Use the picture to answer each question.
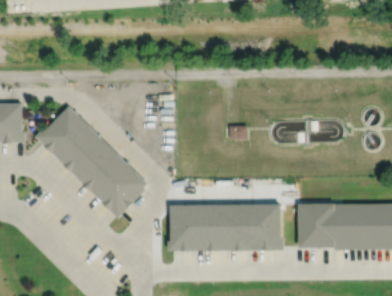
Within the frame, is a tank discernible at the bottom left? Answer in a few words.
No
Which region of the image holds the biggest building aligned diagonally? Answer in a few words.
left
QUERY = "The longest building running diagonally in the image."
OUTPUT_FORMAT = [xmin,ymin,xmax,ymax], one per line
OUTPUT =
[36,106,144,216]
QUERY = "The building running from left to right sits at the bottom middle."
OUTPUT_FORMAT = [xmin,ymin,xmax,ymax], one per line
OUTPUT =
[168,203,285,252]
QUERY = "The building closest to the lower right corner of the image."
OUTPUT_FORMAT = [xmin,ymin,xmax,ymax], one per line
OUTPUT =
[298,202,392,250]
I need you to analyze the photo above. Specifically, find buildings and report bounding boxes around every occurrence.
[168,203,285,252]
[0,103,24,142]
[230,125,248,139]
[36,106,144,216]
[298,202,392,250]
